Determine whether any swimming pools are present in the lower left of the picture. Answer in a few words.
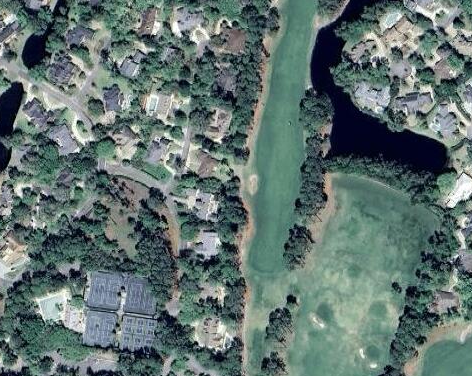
Yes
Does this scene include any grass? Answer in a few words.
Yes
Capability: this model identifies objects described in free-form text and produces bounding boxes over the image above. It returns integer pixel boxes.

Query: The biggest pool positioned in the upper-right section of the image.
[382,11,403,29]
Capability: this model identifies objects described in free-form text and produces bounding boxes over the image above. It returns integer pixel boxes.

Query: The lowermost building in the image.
[200,320,226,345]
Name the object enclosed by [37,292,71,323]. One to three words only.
swimming pool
